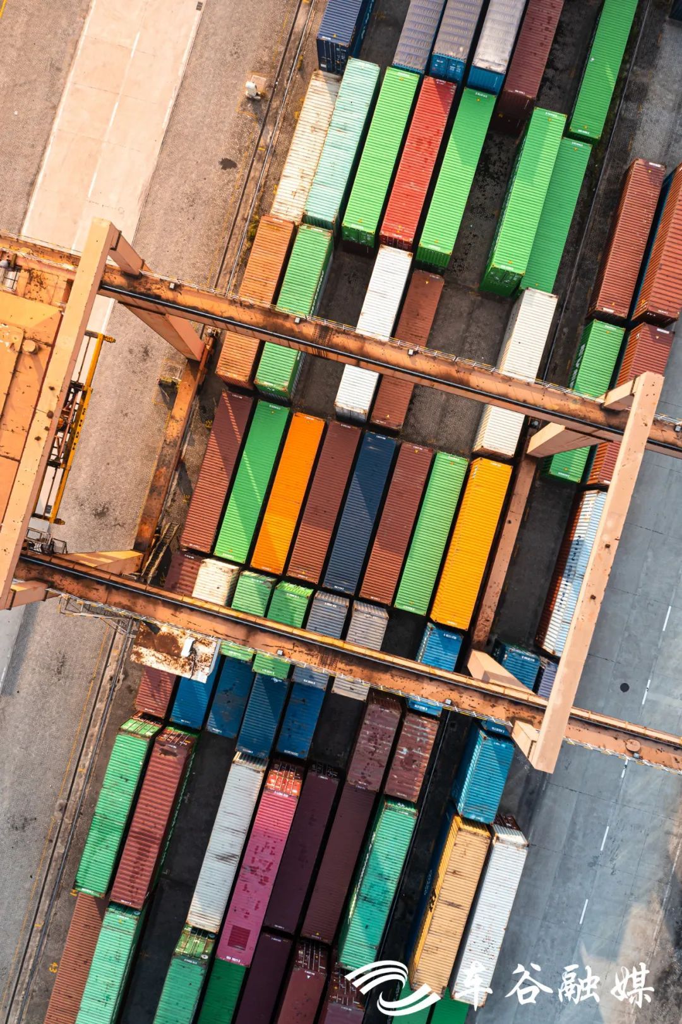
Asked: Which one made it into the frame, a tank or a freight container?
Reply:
freight container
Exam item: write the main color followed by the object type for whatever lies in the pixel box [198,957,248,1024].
green shipping container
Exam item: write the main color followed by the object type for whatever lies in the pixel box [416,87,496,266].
green shipping container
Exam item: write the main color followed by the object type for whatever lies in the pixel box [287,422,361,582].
red shipping container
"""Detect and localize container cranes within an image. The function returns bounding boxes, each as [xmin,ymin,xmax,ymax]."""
[0,218,682,777]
